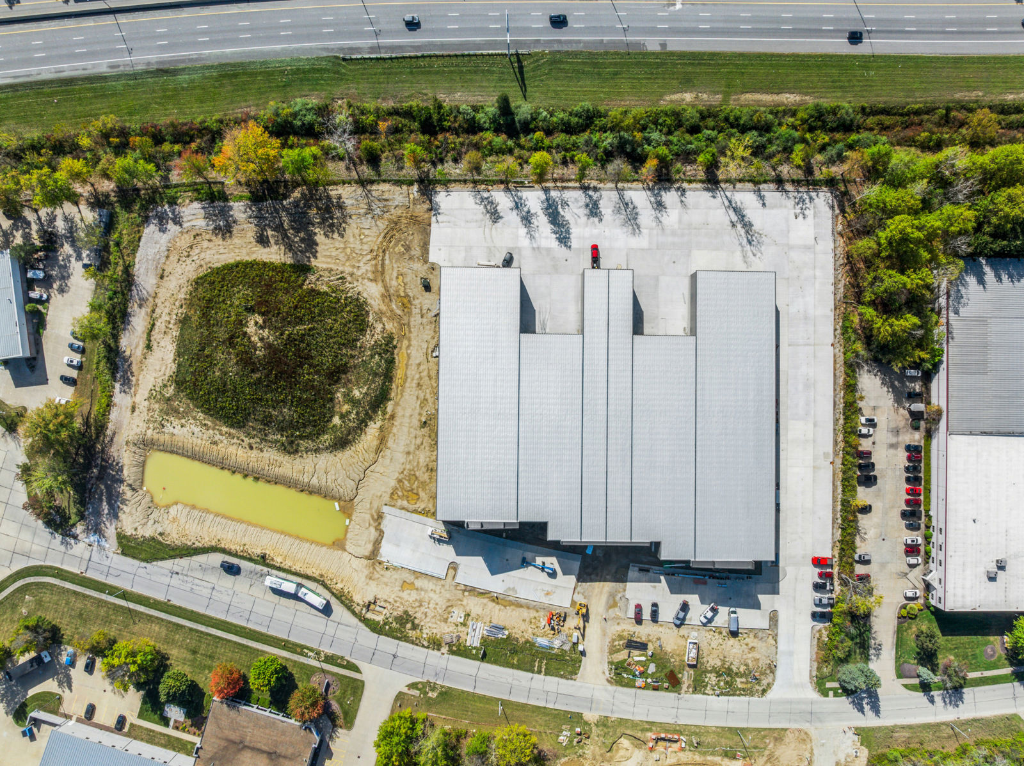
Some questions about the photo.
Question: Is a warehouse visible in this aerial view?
Yes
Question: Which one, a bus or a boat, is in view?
bus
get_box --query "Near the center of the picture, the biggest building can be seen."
[436,267,776,571]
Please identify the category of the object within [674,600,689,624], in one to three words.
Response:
vehicle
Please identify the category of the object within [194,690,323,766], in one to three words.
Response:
building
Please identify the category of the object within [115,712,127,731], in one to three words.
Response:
vehicle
